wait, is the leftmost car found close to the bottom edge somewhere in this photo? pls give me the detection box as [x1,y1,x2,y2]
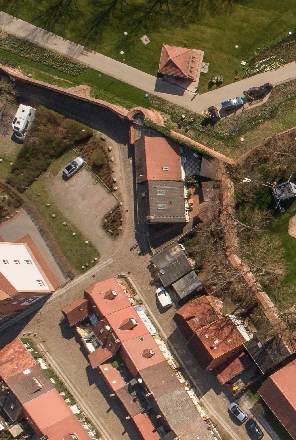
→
[225,400,251,426]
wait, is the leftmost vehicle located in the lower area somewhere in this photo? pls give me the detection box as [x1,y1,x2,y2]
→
[154,285,175,310]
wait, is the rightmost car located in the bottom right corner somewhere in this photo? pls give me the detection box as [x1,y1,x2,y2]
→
[244,416,268,440]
